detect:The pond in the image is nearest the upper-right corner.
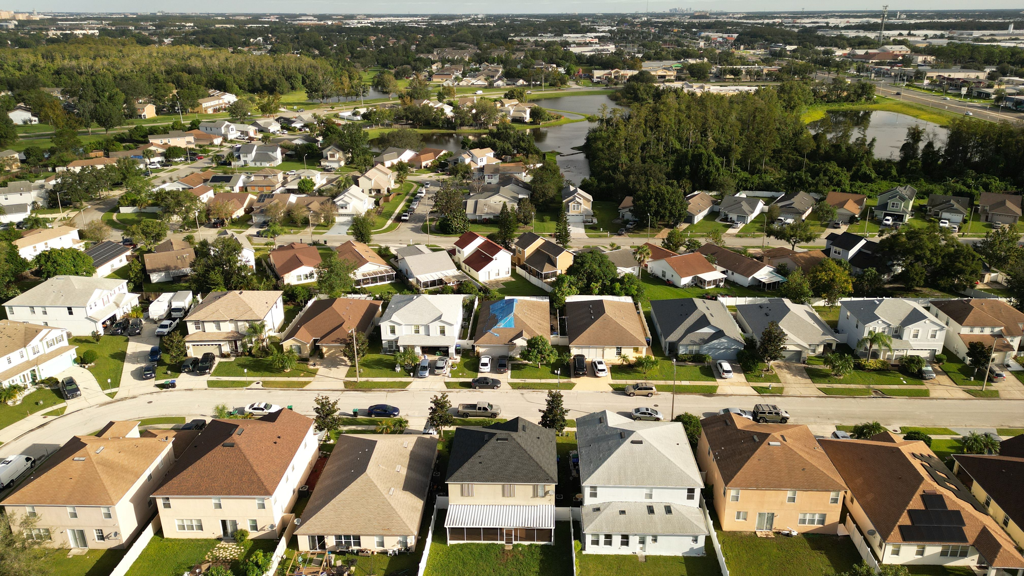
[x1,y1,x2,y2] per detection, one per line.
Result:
[807,109,950,154]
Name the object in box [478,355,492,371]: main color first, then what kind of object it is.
white car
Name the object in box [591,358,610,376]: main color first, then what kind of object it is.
white car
